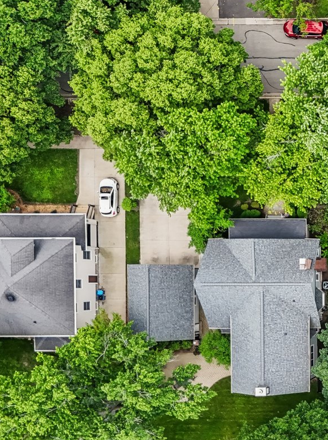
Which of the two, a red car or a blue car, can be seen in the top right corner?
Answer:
red car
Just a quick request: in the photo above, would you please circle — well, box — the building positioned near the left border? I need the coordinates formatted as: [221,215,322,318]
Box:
[0,202,97,351]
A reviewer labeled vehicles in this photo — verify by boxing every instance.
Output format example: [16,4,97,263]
[285,21,328,42]
[97,179,121,218]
